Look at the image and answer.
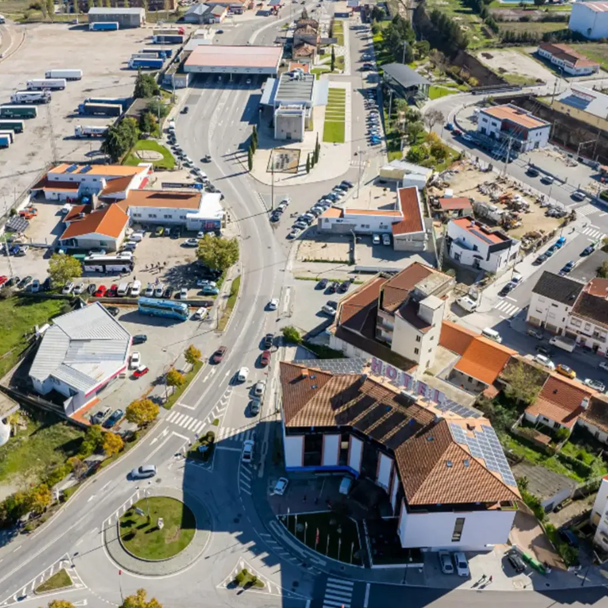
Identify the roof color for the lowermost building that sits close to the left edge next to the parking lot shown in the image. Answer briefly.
white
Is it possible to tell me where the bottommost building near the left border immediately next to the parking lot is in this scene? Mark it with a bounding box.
[29,302,133,413]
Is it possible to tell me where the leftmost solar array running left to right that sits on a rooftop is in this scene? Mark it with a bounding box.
[297,357,369,371]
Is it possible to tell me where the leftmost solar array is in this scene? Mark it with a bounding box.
[4,215,32,237]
